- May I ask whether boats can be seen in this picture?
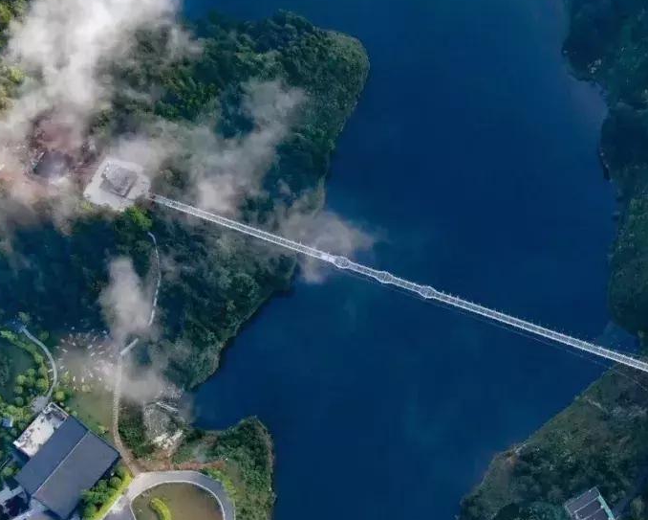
No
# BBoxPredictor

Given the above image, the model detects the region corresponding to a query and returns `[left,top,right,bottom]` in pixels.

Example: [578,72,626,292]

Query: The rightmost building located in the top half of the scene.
[99,165,138,198]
